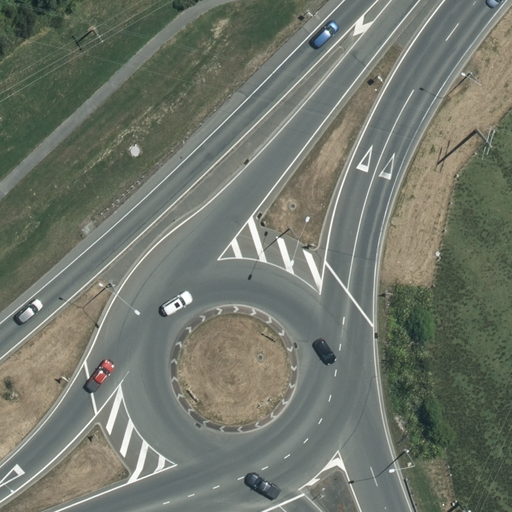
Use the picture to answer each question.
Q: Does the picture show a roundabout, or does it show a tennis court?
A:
roundabout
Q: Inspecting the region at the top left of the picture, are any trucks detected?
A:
No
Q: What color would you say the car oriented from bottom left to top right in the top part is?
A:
blue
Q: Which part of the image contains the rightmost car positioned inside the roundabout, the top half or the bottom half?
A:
bottom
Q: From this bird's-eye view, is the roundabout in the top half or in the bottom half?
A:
bottom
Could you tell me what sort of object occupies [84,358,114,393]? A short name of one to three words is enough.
truck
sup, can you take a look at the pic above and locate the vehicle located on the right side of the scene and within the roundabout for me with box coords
[313,336,336,366]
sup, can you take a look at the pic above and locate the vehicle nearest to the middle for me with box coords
[158,290,193,318]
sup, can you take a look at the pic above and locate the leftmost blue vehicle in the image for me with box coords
[310,20,338,50]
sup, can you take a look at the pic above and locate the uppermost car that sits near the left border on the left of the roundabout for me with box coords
[13,298,43,326]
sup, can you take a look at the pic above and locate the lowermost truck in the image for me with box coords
[244,472,281,501]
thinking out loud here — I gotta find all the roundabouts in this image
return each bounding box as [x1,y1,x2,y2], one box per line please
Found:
[124,258,344,478]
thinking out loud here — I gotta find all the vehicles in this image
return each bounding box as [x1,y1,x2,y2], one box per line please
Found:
[84,358,114,393]
[486,0,503,8]
[158,290,193,318]
[310,20,338,50]
[244,472,281,501]
[13,298,43,326]
[313,336,336,366]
